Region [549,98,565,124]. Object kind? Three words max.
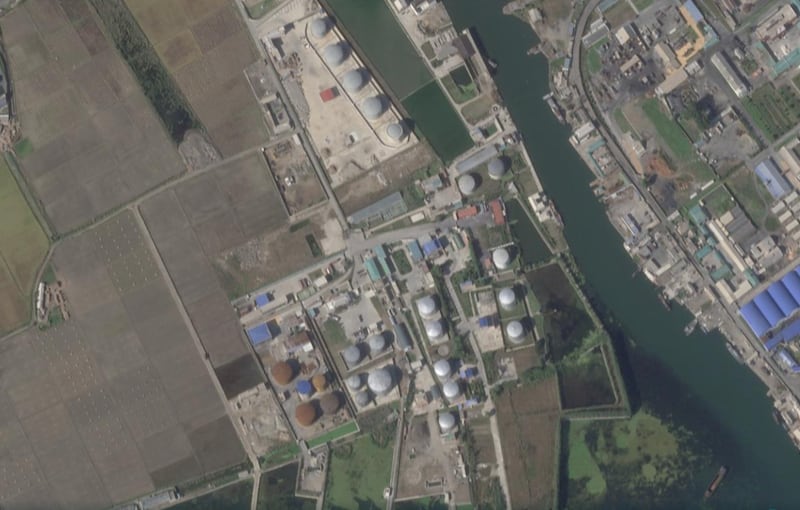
ship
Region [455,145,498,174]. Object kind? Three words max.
shed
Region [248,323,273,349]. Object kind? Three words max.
building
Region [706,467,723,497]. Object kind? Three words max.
vessel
